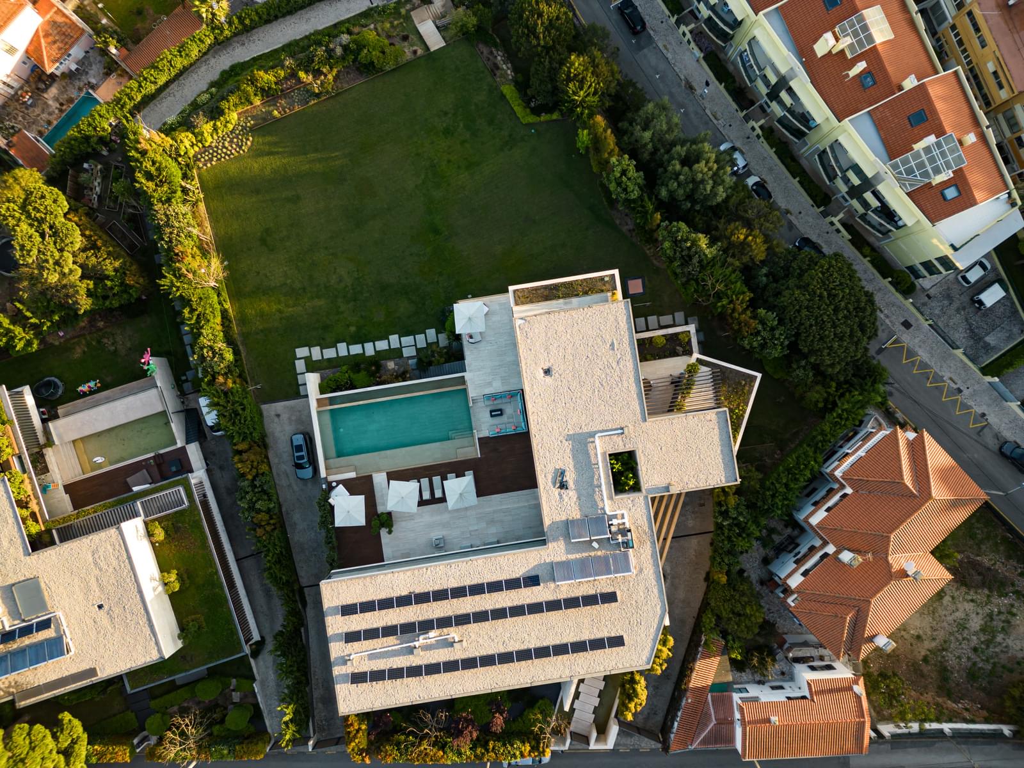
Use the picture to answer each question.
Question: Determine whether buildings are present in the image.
Yes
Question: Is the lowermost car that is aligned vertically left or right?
left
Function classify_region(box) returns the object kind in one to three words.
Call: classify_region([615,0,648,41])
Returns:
car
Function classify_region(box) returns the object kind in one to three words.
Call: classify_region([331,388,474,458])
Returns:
swimming pool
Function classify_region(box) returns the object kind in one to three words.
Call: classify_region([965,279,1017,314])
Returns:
van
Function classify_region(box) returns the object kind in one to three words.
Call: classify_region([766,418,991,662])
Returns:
house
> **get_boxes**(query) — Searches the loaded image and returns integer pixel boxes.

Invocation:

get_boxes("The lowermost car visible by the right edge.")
[993,437,1024,475]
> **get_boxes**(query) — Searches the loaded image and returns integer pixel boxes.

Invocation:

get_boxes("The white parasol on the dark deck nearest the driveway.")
[334,495,365,526]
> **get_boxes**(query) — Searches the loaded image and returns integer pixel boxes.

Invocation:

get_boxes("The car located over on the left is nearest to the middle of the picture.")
[291,432,316,480]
